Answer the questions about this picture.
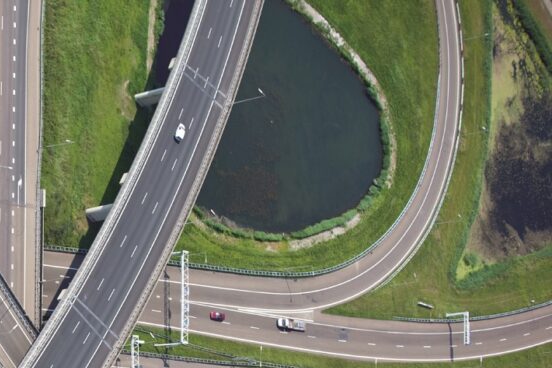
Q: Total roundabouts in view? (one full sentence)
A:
I count no roundabouts.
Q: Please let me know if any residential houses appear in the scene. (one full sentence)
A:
No, no residential house can be seen from above.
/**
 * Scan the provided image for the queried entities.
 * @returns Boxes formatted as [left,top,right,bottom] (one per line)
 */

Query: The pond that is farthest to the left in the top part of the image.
[144,0,383,236]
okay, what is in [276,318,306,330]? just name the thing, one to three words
vehicle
